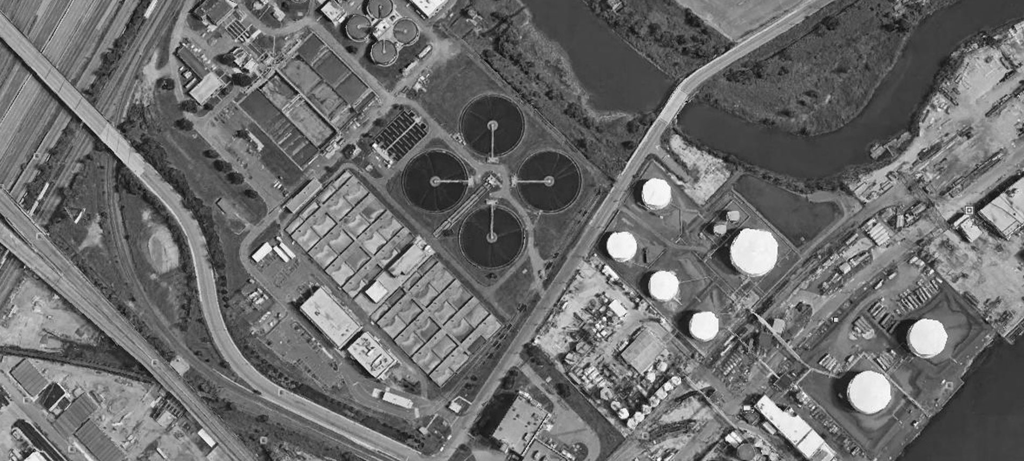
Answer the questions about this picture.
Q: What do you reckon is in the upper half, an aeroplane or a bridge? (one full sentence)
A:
You can see a bridge in the upper half.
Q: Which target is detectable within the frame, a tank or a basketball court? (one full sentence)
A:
Of the two, only a tank appears.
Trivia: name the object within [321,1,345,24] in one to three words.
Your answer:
building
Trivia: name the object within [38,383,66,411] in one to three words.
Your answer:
shed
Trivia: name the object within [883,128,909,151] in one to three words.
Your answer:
ship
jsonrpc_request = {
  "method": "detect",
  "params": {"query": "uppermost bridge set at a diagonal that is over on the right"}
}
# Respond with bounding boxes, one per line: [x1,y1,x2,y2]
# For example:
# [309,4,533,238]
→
[657,74,712,120]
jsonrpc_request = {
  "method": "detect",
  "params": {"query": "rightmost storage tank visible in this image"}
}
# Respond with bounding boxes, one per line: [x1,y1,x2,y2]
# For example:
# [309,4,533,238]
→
[905,318,948,360]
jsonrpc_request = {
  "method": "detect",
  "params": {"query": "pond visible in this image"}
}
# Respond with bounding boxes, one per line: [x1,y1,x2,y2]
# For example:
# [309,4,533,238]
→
[733,174,841,245]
